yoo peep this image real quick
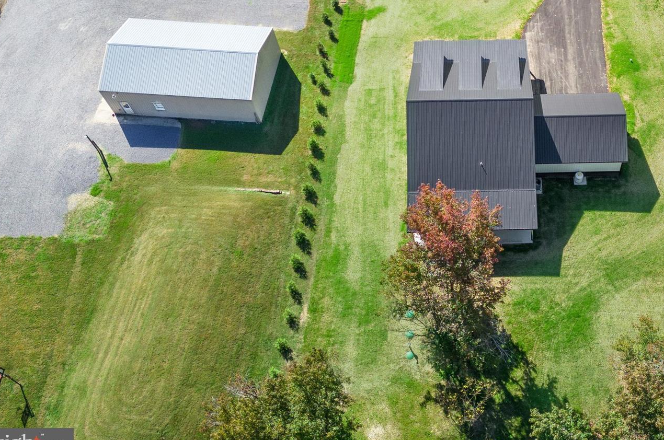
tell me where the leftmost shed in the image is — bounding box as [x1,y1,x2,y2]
[96,19,281,126]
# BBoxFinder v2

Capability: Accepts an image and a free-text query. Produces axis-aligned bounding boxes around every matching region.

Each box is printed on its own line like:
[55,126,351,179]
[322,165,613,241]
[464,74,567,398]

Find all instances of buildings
[96,19,281,126]
[406,40,628,244]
